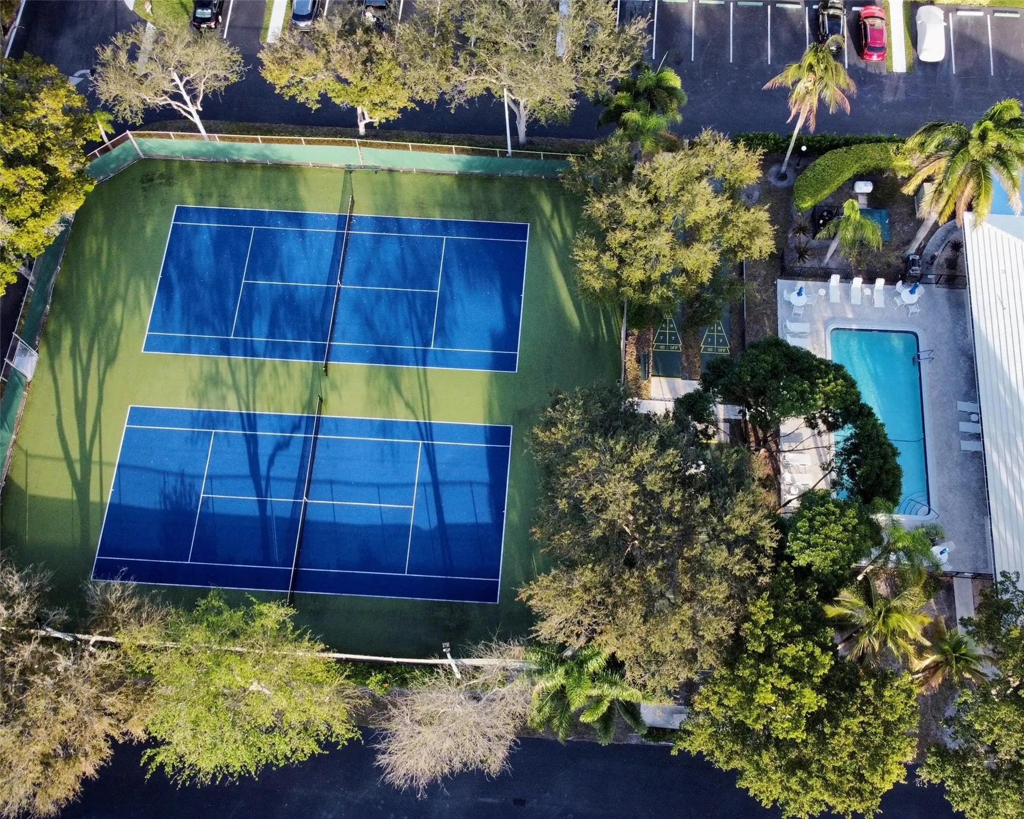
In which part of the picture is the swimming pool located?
right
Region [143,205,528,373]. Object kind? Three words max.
tennis court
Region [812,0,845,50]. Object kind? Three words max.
car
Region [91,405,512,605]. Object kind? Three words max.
tennis court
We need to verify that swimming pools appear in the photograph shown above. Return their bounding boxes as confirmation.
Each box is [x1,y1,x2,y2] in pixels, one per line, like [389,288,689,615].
[825,324,940,520]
